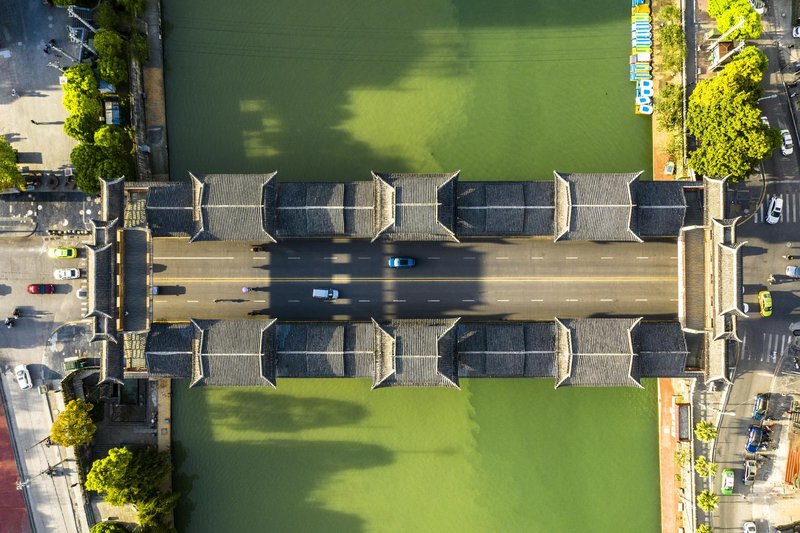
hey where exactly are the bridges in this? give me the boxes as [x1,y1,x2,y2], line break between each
[127,187,702,371]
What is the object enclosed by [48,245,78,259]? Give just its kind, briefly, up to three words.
car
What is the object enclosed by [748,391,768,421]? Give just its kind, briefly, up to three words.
car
